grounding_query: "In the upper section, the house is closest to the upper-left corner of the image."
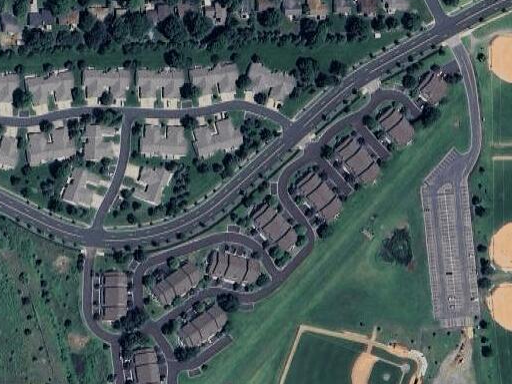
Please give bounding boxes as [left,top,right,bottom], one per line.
[0,15,22,37]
